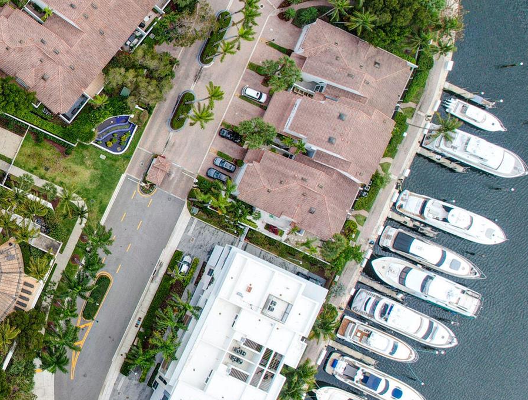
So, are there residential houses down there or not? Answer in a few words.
Yes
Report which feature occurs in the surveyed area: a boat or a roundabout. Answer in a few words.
boat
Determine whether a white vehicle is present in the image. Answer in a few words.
Yes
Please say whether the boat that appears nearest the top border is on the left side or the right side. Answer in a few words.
right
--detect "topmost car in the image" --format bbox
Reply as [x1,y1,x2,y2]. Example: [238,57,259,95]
[241,86,267,102]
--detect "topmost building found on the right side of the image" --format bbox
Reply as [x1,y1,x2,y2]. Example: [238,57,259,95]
[285,18,410,118]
